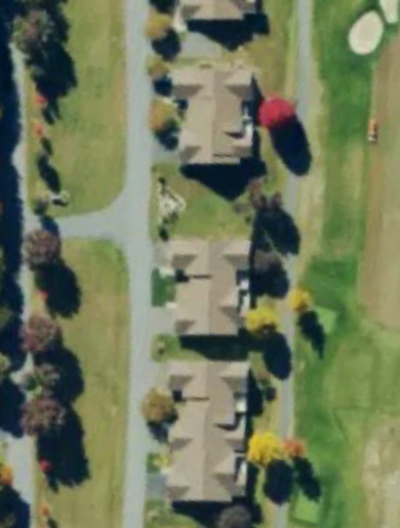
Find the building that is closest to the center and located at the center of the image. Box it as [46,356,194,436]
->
[170,238,249,337]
